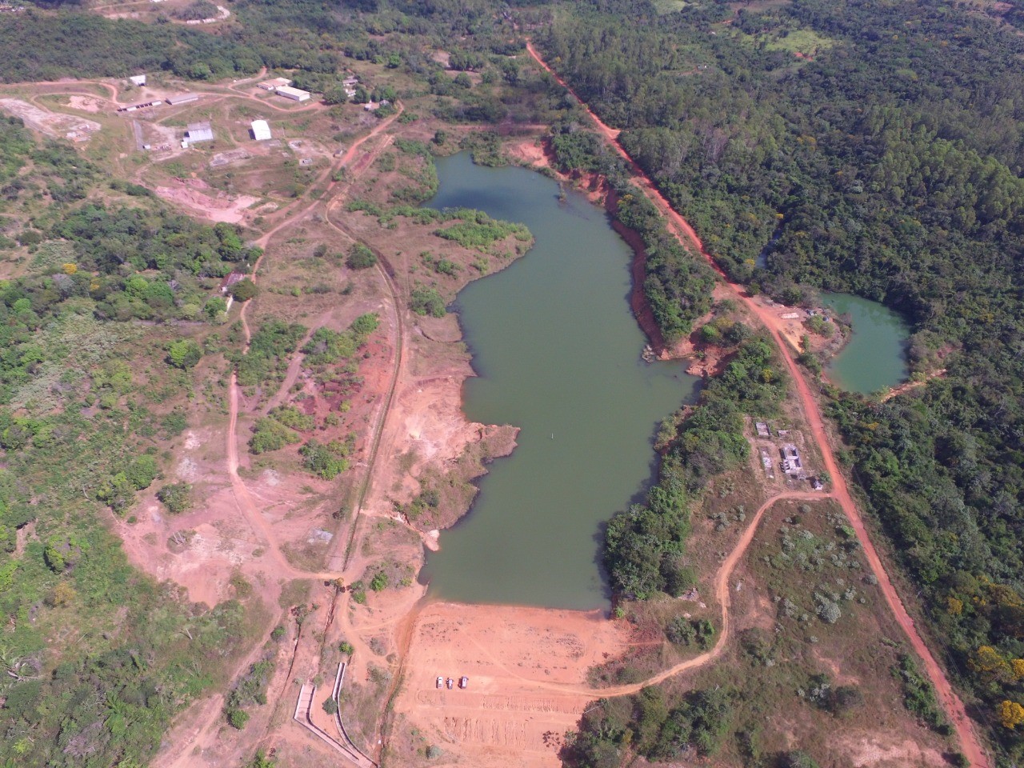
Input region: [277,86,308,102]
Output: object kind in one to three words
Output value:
hangar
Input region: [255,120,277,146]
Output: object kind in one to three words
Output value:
building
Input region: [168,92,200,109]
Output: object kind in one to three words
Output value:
shed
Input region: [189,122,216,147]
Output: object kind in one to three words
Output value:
shed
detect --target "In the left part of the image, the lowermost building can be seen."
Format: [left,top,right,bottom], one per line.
[219,272,246,297]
